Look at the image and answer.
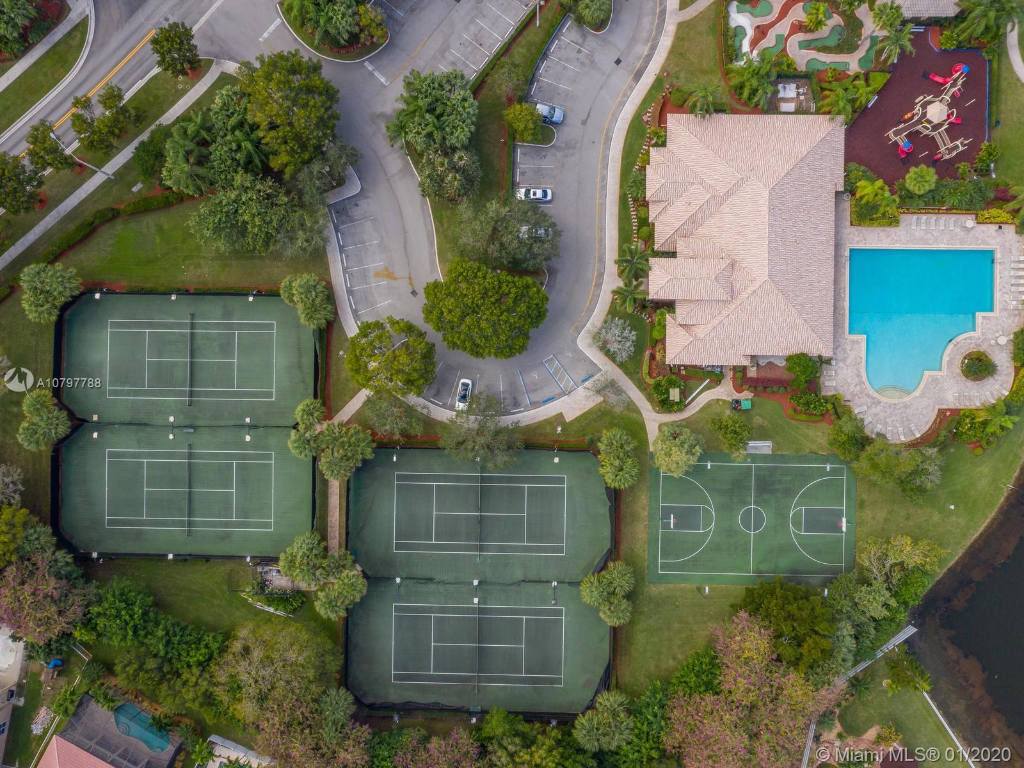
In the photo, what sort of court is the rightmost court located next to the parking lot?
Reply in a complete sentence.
In the photo, the rightmost court located next to the parking lot shows up as a basketball court.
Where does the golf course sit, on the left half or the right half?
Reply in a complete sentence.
The golf course appears in the right half of the scene.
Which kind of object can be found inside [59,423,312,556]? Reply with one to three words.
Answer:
tennis court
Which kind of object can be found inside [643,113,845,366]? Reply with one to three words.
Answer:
building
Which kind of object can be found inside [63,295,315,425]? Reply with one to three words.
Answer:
tennis court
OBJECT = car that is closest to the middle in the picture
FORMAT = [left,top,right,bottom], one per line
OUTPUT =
[455,374,475,410]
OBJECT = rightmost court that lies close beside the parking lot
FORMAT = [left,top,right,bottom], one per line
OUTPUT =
[647,454,856,585]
